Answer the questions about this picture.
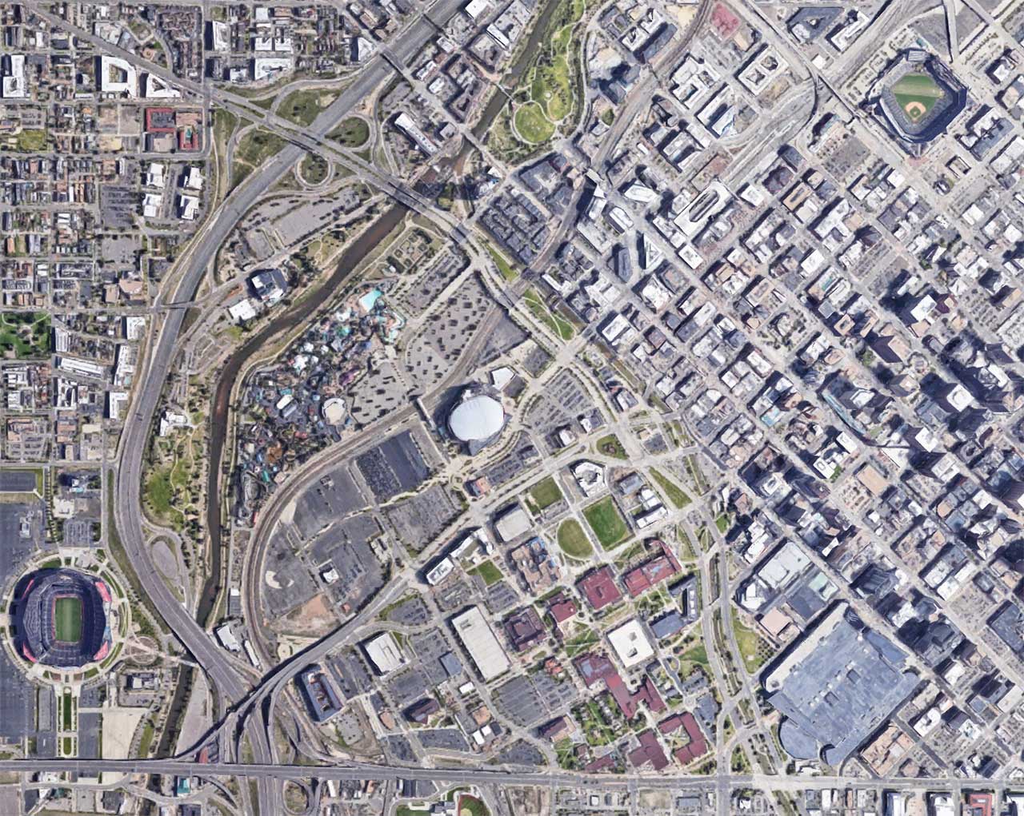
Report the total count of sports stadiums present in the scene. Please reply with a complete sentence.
The photo contains 3 sports stadiums.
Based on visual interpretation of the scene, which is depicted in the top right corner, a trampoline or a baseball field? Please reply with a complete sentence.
Looking in the top right corner, you will find a baseball field.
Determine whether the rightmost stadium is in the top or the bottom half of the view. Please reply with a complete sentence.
Seen from above, the rightmost stadium lies in the top half of the view.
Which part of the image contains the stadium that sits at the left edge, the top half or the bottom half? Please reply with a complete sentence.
The stadium that sits at the left edge sits in the bottom half of the picture.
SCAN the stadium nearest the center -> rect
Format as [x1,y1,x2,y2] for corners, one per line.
[439,387,510,457]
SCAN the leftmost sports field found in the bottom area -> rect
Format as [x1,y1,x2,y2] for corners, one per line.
[55,596,82,641]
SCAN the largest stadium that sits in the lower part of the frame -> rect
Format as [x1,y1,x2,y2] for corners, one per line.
[11,571,116,670]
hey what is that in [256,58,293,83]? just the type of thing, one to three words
building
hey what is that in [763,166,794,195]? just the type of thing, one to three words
building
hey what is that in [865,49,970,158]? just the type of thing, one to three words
stadium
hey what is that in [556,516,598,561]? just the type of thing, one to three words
sports field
